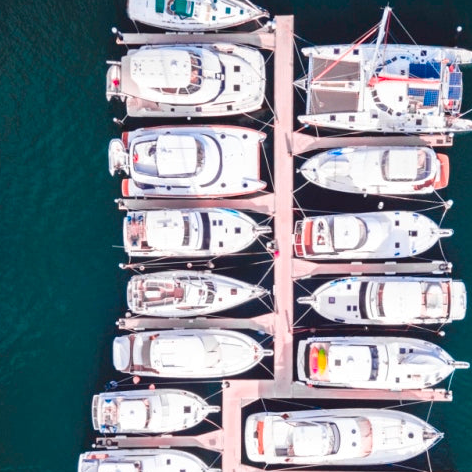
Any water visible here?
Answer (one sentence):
Yes, there is water in the image.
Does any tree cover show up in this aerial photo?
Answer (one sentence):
No, no tree cover is visible.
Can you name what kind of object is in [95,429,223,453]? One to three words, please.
pier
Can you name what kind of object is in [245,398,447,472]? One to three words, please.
boat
